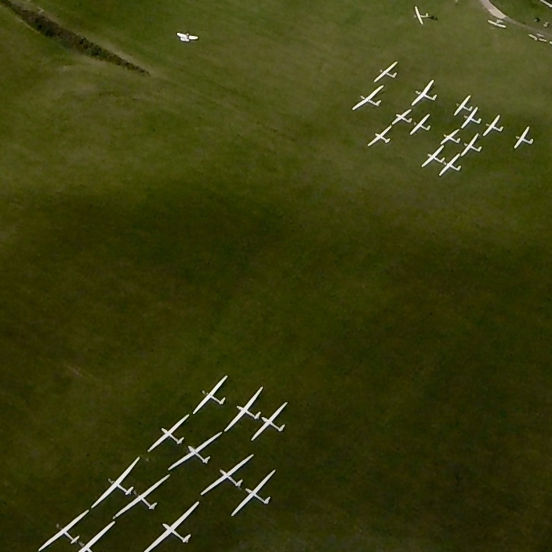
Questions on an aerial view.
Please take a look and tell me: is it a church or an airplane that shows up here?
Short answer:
airplane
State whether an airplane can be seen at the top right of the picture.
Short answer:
Yes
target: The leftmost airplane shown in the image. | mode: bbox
[39,511,89,550]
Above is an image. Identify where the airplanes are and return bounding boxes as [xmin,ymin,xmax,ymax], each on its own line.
[421,145,445,168]
[113,473,169,520]
[375,62,399,79]
[80,520,114,552]
[441,154,461,174]
[168,431,221,471]
[193,376,227,413]
[148,416,189,450]
[454,96,474,114]
[145,501,198,552]
[441,130,461,144]
[202,456,253,493]
[225,388,263,429]
[462,135,481,154]
[92,456,138,508]
[368,125,391,146]
[462,108,481,126]
[232,469,274,517]
[353,85,383,109]
[483,116,503,135]
[414,6,429,25]
[488,18,506,28]
[252,402,286,442]
[412,79,435,105]
[174,31,199,40]
[39,511,89,550]
[391,108,412,125]
[411,115,432,133]
[514,128,533,147]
